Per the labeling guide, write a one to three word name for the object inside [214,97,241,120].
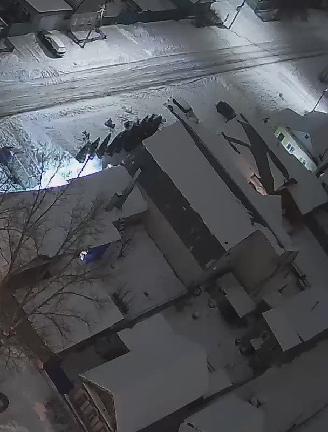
car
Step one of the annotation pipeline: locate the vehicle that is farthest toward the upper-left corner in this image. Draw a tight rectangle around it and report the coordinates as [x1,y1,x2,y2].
[39,29,68,56]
